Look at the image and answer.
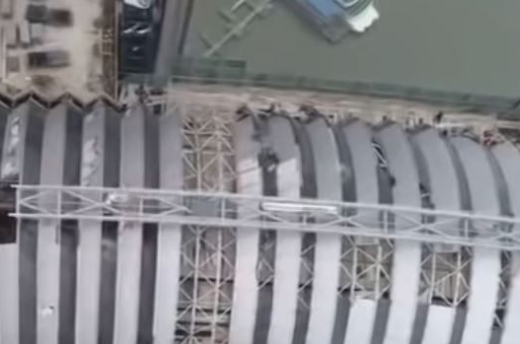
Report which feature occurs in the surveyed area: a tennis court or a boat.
boat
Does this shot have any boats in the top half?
Yes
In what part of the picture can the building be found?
top left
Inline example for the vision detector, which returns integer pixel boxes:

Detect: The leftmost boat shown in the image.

[276,0,348,46]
